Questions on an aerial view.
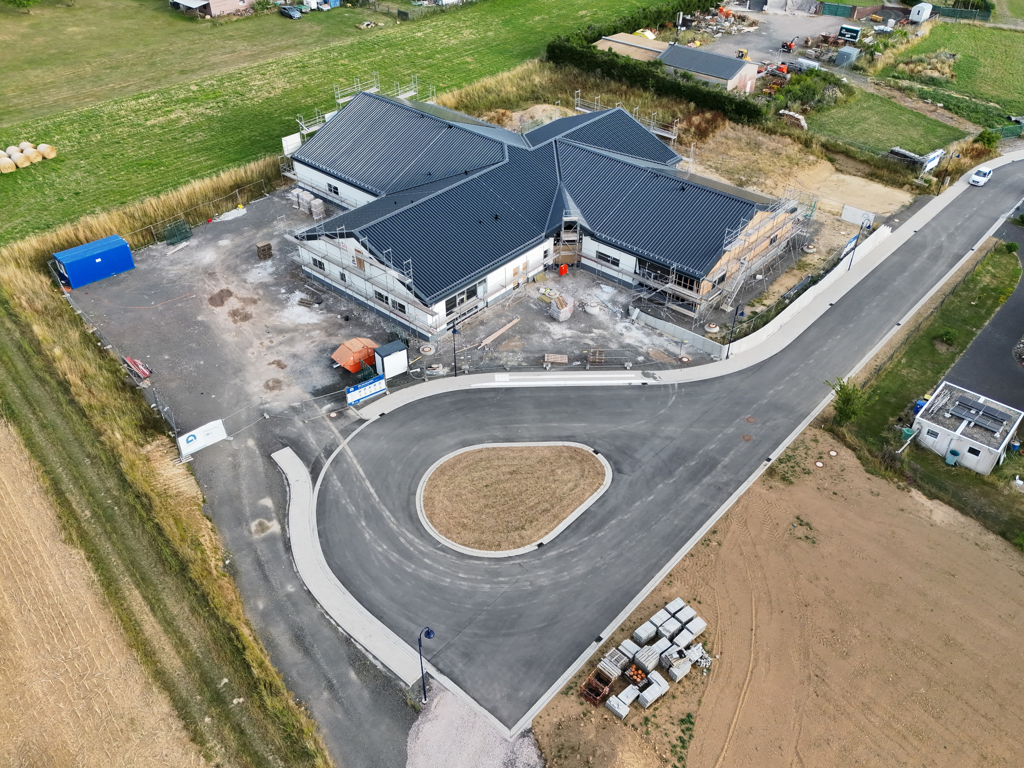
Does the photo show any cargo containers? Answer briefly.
Yes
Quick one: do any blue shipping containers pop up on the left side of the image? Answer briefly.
Yes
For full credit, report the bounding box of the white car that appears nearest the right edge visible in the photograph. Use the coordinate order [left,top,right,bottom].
[970,167,997,184]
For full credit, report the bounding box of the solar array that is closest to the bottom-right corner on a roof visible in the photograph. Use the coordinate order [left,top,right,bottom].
[936,397,1008,440]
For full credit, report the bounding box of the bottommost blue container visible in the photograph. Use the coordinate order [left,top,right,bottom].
[53,236,134,289]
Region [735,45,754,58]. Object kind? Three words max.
vehicle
